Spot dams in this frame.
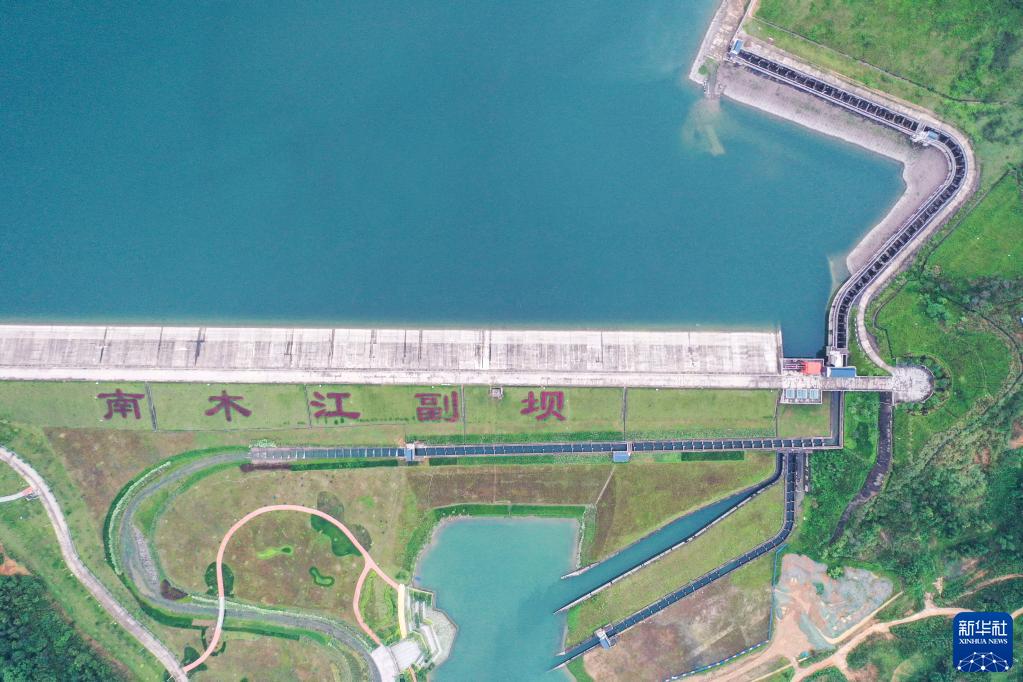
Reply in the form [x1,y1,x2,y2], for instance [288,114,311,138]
[0,325,894,439]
